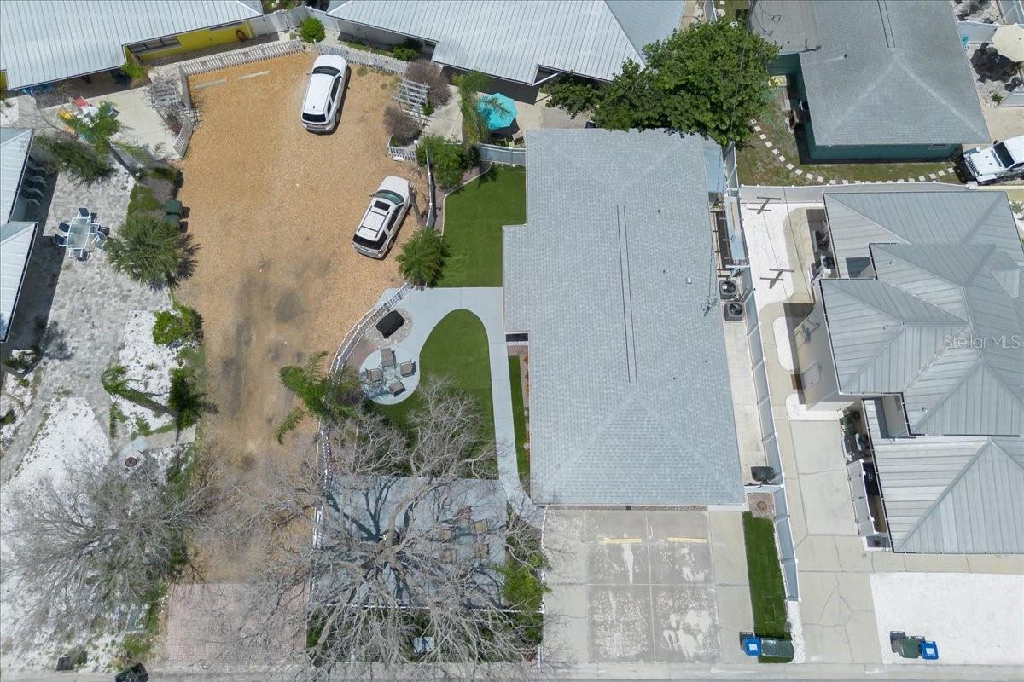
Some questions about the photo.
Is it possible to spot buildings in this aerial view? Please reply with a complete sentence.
Yes, a building appears in the view.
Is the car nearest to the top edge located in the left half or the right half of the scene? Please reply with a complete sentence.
You can find the car nearest to the top edge on the left side of the picture.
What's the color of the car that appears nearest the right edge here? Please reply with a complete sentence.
The car that appears nearest the right edge is white.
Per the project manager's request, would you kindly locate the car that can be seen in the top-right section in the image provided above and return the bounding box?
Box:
[957,127,1024,183]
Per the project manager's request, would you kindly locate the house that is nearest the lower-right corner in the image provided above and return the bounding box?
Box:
[796,189,1024,557]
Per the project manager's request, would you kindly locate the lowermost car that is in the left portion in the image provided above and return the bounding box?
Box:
[349,176,412,258]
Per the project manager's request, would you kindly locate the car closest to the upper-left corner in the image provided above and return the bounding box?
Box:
[295,54,349,133]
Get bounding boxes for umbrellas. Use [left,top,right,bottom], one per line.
[472,95,523,147]
[988,22,1024,79]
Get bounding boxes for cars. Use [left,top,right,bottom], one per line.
[349,176,412,258]
[295,54,349,133]
[957,127,1024,183]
